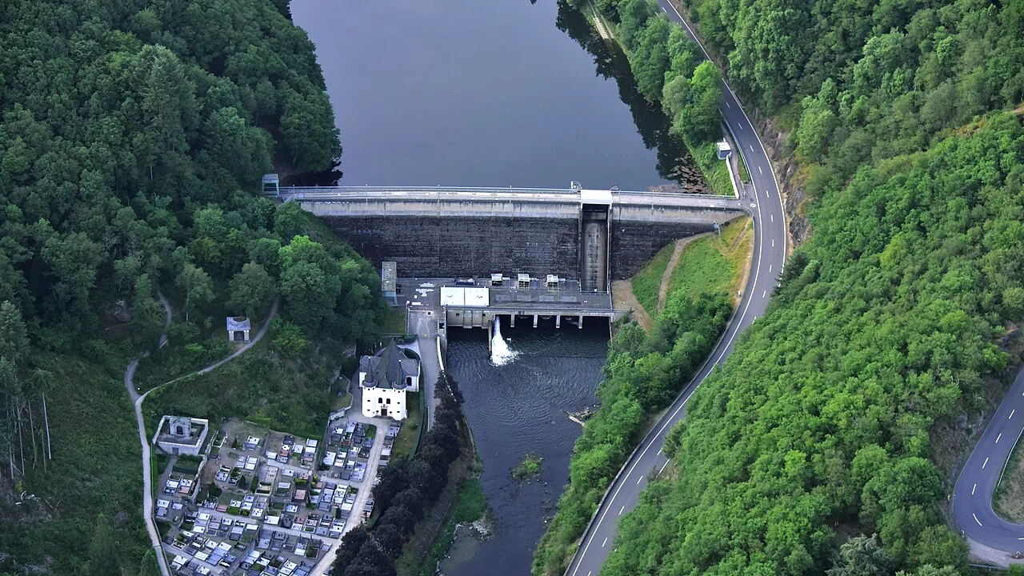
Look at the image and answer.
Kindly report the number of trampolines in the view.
zero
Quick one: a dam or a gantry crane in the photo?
dam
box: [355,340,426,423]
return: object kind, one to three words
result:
building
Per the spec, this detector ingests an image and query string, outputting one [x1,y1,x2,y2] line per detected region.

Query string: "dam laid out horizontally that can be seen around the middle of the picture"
[280,186,735,298]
